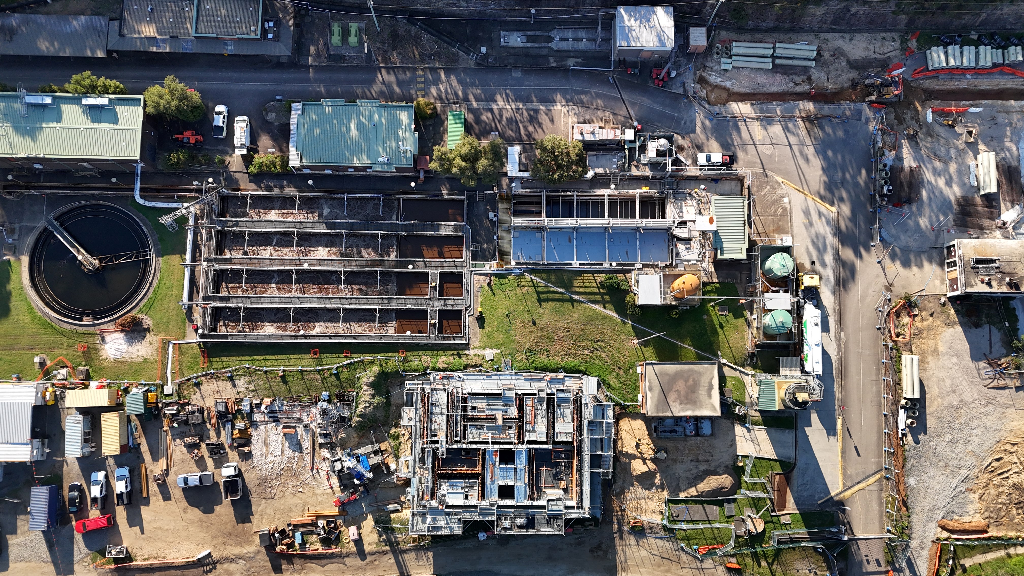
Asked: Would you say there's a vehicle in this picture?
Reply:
Yes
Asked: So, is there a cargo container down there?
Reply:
Yes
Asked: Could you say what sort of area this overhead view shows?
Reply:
industrial area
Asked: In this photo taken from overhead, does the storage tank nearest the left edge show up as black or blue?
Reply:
black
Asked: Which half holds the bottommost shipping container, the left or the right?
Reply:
left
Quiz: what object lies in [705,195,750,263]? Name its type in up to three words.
building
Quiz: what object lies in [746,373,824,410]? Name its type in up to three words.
silo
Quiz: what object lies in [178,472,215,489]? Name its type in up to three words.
vehicle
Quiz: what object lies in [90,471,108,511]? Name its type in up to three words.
vehicle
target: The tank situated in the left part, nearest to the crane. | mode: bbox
[199,188,492,343]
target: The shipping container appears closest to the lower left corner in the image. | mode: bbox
[29,484,59,531]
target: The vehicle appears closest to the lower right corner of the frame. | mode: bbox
[797,267,822,374]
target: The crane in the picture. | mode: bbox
[326,429,388,491]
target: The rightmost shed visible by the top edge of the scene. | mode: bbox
[685,27,706,54]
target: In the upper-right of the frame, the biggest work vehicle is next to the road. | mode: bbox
[849,72,903,102]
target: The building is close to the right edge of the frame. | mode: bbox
[933,239,1024,299]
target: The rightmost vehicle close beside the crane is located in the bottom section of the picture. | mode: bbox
[332,486,365,510]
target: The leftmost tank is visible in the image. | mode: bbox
[26,200,162,332]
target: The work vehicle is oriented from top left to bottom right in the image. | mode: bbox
[635,438,666,461]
